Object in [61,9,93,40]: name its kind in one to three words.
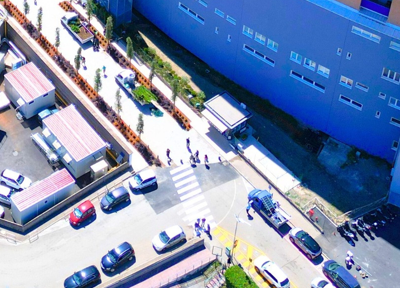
truck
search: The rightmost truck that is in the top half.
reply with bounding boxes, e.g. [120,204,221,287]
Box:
[113,70,155,106]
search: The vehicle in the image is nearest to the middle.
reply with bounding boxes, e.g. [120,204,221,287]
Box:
[126,168,161,196]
